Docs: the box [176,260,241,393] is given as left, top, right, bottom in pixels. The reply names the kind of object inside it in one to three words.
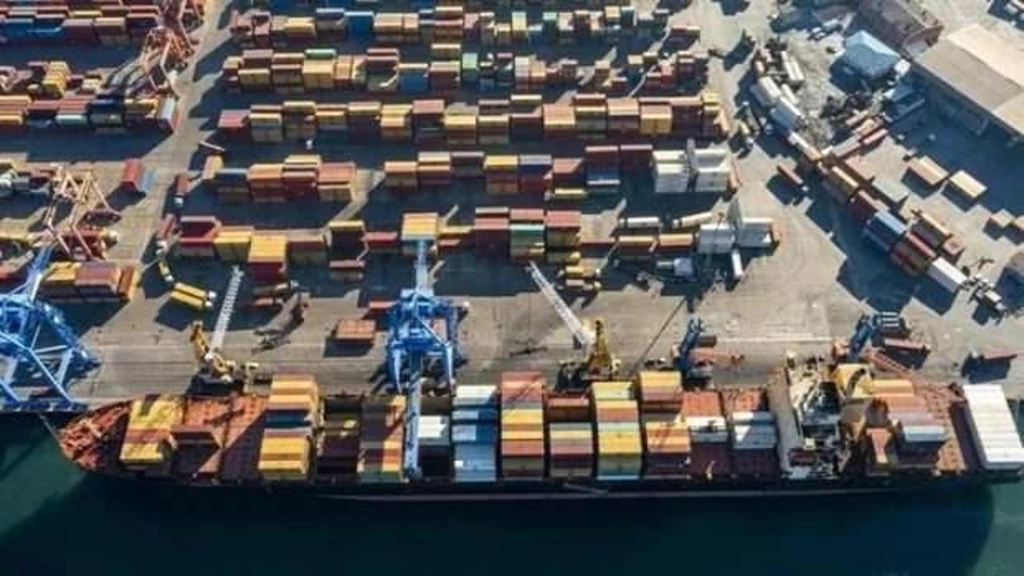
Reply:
crane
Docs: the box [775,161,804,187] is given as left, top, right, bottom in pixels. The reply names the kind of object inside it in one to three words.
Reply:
shipping container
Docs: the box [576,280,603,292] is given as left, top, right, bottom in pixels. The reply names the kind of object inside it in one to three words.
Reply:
vehicle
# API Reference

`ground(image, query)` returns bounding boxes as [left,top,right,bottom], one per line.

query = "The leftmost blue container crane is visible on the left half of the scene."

[0,230,104,404]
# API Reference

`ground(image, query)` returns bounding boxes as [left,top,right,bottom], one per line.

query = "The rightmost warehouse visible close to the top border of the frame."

[904,26,1024,160]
